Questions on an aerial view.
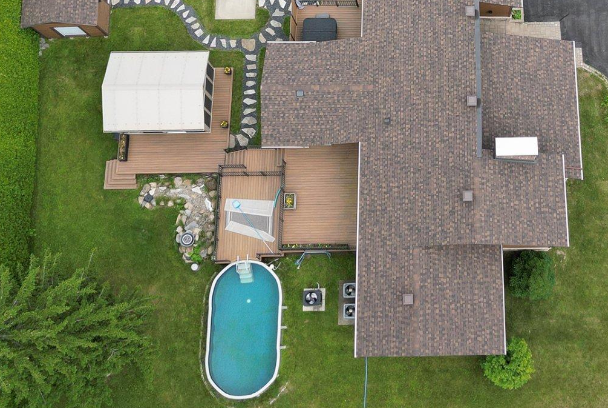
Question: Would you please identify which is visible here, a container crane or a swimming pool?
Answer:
swimming pool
